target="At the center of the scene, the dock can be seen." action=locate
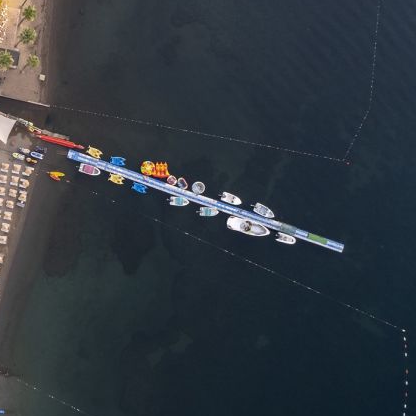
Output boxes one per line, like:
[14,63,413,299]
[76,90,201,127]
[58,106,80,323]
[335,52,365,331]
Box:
[66,151,344,249]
